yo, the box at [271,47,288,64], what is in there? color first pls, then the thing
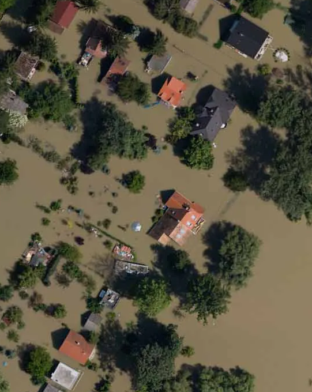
white gazebo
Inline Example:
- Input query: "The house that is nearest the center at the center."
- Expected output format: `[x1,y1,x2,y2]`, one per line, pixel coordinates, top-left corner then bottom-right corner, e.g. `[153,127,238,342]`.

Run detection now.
[155,187,210,248]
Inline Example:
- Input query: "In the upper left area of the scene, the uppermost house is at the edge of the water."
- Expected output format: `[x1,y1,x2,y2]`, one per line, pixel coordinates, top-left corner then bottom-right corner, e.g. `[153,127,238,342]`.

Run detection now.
[45,0,81,35]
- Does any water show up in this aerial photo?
Yes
